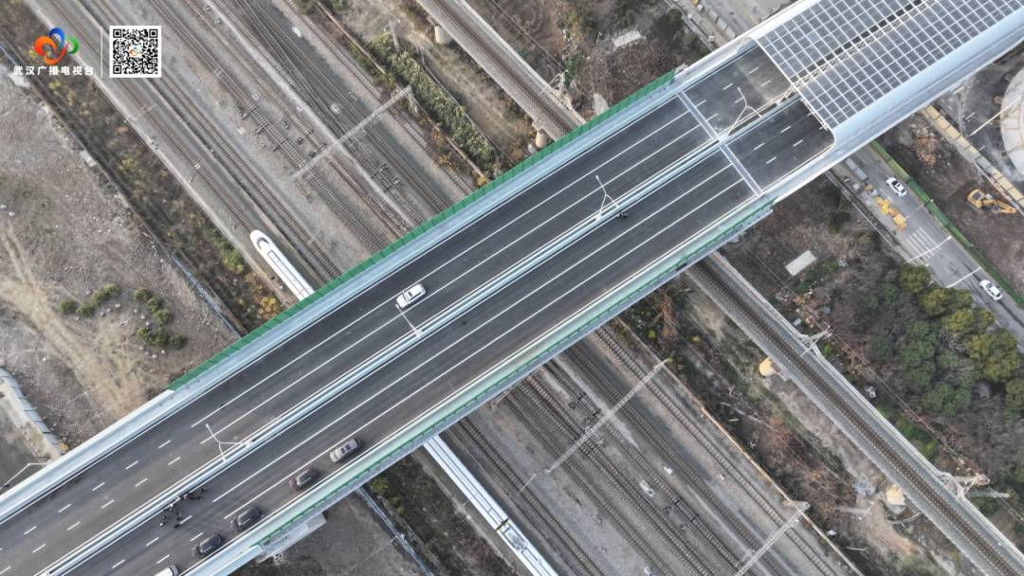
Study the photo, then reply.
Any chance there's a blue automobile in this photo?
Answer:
No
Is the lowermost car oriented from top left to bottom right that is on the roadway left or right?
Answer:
right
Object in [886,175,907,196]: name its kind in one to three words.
car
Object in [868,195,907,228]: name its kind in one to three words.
work vehicle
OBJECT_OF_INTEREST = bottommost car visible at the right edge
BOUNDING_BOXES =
[979,278,1003,300]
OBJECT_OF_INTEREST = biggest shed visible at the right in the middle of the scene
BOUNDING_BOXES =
[782,250,816,278]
